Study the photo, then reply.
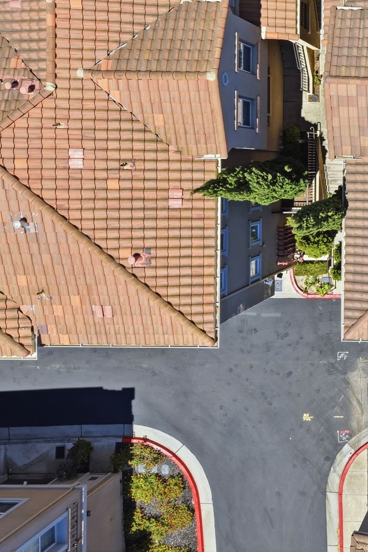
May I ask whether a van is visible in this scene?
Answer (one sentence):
No, there's no van here.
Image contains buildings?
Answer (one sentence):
Yes, this view includes a building.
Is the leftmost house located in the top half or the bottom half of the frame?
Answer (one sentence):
The leftmost house sits in the bottom half of the picture.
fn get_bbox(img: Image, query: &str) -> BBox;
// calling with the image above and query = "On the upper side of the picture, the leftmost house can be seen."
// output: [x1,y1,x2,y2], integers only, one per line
[0,0,320,361]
